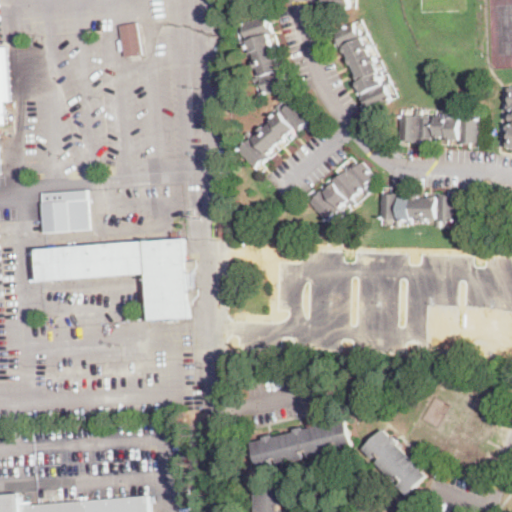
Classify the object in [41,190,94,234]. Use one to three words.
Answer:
building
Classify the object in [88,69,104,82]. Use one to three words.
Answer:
vehicle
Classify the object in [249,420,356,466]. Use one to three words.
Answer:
building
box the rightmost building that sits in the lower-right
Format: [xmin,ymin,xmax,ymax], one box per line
[360,430,429,494]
